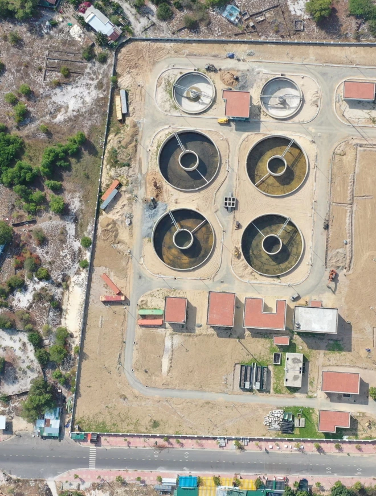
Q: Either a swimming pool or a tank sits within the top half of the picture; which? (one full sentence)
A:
You can see a tank within the top half of the picture.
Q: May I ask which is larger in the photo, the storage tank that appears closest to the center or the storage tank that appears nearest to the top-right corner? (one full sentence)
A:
The larger object is the storage tank that appears closest to the center, with the storage tank that appears nearest to the top-right corner being the smaller of the pair.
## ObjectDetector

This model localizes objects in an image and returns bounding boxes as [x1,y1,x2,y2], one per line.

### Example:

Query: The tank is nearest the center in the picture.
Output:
[152,208,215,271]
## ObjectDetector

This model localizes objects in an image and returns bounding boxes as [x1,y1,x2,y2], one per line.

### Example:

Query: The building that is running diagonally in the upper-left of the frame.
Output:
[80,5,123,43]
